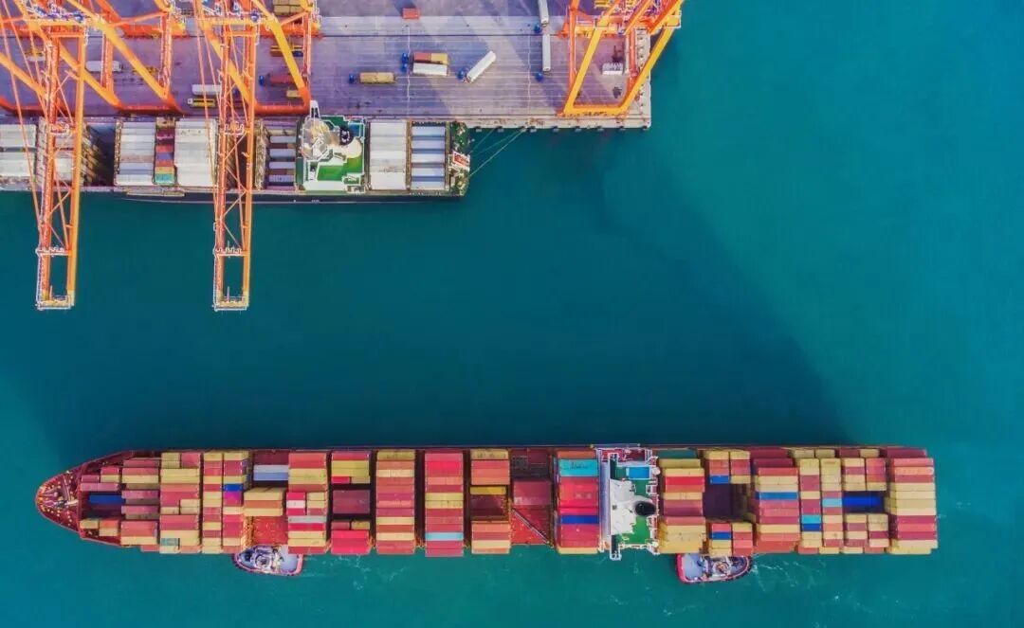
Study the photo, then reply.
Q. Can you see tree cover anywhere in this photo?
No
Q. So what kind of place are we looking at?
port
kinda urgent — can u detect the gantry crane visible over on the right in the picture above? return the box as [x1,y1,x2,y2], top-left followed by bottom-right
[556,0,685,114]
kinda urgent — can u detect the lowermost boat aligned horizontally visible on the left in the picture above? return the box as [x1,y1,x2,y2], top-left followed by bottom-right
[230,544,305,578]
